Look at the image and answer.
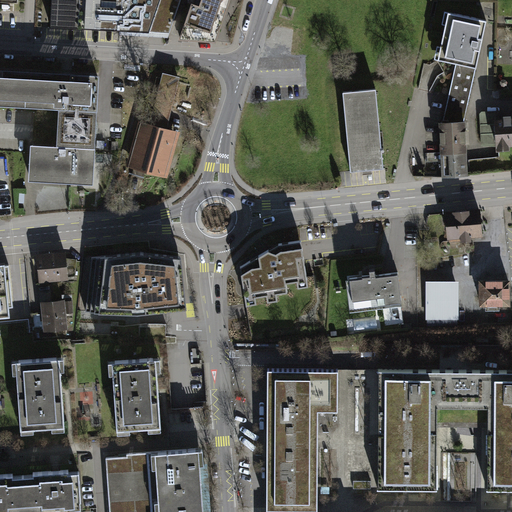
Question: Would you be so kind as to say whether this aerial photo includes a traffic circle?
Yes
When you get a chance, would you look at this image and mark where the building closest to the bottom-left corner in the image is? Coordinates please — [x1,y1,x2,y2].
[0,466,82,512]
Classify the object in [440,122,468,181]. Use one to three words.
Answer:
house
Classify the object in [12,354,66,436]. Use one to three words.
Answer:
building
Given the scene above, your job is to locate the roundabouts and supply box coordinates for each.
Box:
[164,172,262,266]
